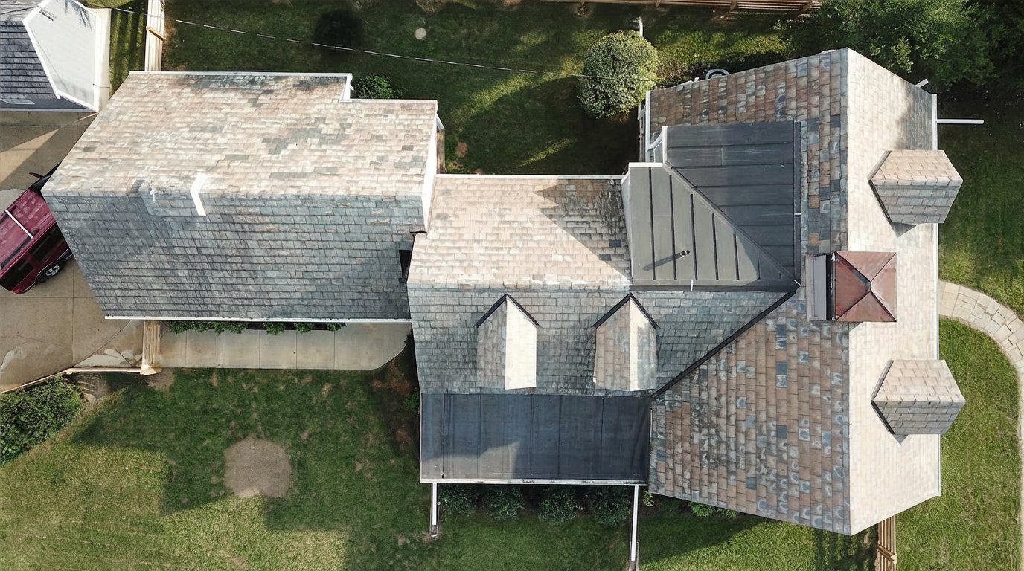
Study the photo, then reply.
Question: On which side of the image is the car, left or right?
left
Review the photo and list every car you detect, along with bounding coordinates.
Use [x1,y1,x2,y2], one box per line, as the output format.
[0,177,70,291]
